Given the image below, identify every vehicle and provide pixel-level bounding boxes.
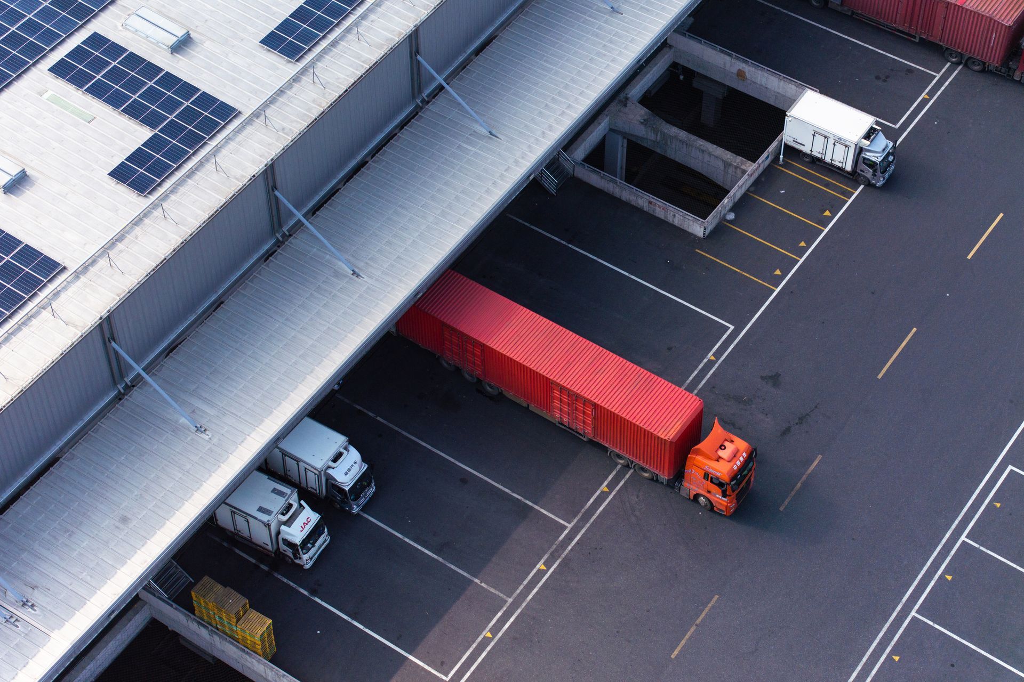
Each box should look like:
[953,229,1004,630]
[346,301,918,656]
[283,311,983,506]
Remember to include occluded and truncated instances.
[210,469,330,572]
[784,88,898,190]
[389,270,764,521]
[815,0,1024,86]
[260,416,379,518]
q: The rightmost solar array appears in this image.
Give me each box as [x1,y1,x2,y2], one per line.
[258,0,359,57]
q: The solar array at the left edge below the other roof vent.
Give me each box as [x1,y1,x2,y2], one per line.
[0,226,63,317]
